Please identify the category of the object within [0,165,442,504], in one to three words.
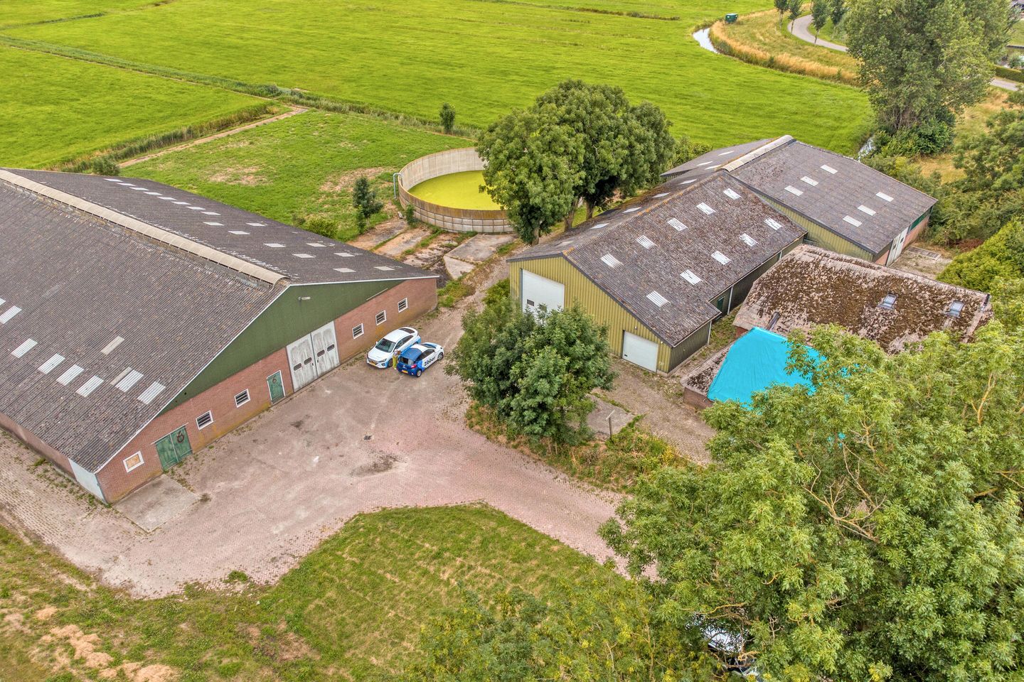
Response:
barn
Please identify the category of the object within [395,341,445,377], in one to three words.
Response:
car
